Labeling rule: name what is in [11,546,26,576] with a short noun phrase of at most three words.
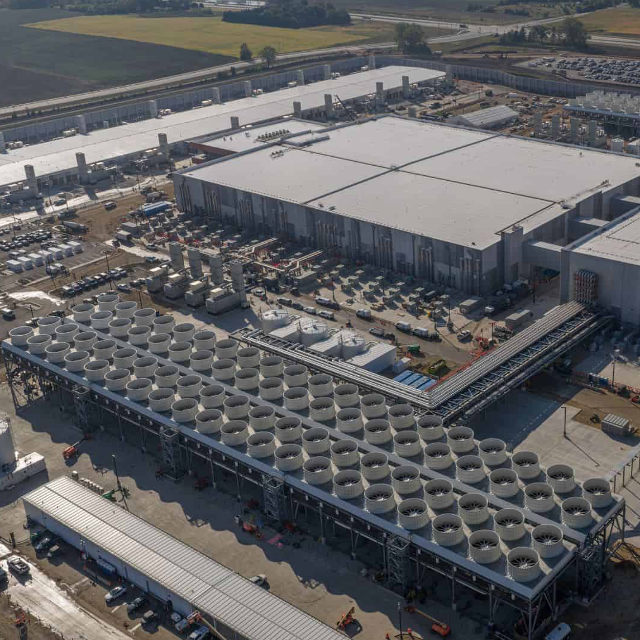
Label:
vehicle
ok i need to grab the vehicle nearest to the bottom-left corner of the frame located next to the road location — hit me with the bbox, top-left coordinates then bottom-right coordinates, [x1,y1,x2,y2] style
[8,605,31,628]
